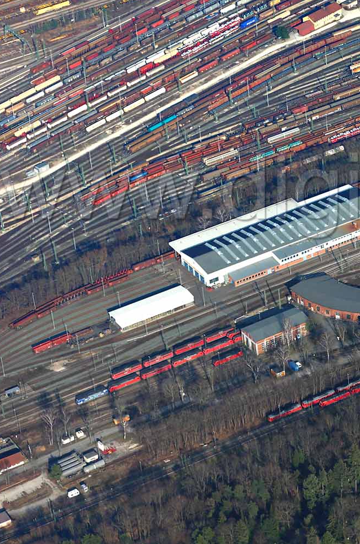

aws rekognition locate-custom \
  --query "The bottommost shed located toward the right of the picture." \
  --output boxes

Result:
[240,311,308,355]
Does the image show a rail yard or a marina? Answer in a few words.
rail yard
